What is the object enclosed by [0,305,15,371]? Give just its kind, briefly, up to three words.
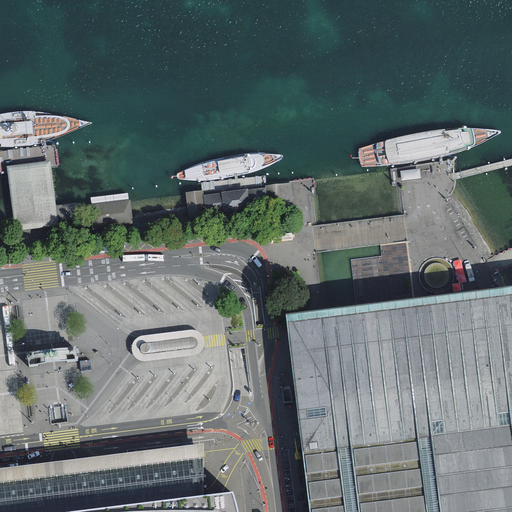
vehicle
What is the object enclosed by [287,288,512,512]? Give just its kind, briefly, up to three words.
building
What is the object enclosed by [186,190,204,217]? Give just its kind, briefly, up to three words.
building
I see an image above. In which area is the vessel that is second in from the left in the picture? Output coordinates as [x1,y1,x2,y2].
[170,152,283,182]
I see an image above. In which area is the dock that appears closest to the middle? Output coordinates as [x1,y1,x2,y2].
[202,176,263,191]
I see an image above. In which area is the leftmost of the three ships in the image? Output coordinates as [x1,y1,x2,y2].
[0,110,94,149]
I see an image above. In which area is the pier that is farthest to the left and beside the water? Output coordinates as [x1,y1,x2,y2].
[0,145,57,168]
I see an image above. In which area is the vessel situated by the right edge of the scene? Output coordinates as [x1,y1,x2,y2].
[350,125,501,168]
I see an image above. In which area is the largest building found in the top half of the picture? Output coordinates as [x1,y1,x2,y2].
[6,161,58,230]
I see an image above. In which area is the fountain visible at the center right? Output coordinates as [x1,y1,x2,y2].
[420,257,454,291]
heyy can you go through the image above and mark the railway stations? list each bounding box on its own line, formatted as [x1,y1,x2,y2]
[0,443,204,512]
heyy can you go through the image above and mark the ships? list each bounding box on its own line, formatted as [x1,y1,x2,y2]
[170,152,283,182]
[0,110,94,149]
[350,125,501,168]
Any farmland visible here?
No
